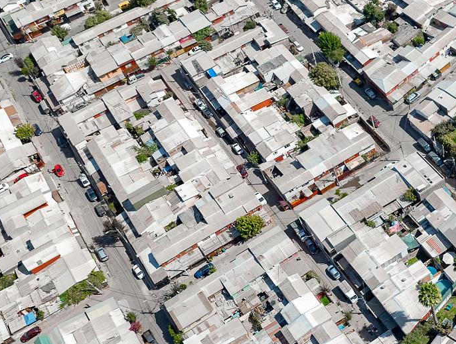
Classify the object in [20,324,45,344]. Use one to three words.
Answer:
car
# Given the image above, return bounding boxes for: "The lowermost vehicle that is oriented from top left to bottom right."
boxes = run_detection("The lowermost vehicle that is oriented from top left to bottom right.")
[139,327,162,344]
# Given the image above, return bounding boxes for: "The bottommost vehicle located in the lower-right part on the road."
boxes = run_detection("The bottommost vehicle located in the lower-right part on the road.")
[338,280,359,303]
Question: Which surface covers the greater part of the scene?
buildings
